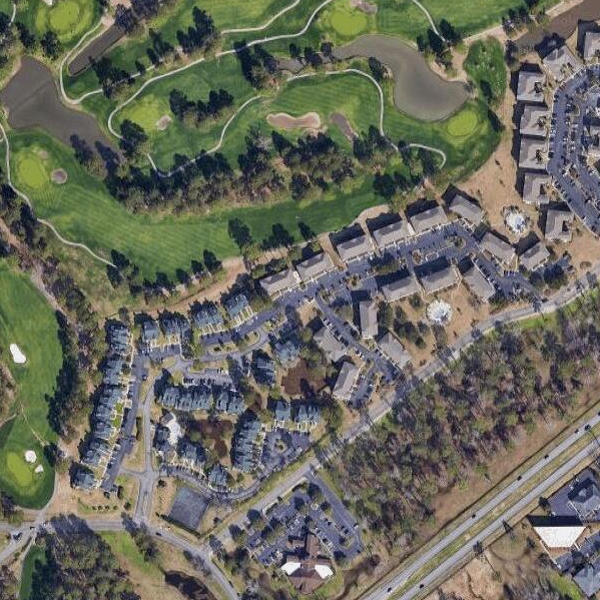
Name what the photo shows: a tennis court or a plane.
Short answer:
tennis court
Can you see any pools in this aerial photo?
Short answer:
Yes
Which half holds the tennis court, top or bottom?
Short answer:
bottom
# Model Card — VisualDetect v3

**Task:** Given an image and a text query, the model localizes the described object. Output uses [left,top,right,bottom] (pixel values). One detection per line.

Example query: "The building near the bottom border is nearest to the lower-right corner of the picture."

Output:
[570,564,600,598]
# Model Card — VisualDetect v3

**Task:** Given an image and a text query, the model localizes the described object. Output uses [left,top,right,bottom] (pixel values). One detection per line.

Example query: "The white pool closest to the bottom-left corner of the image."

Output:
[166,415,182,445]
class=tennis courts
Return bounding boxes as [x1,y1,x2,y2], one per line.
[168,486,211,530]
